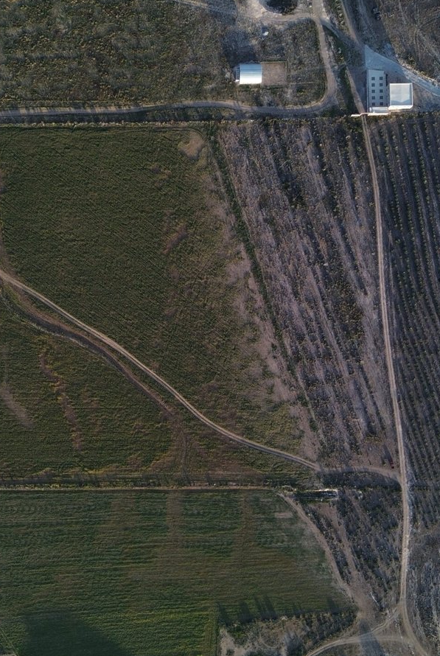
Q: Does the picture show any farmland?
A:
Yes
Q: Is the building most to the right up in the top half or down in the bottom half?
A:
top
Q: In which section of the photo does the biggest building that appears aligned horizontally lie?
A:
top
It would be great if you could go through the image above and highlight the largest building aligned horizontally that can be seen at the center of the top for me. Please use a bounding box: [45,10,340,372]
[236,63,287,87]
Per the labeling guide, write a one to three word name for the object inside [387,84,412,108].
building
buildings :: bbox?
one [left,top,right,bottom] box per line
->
[365,70,385,108]
[236,63,287,87]
[387,84,412,108]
